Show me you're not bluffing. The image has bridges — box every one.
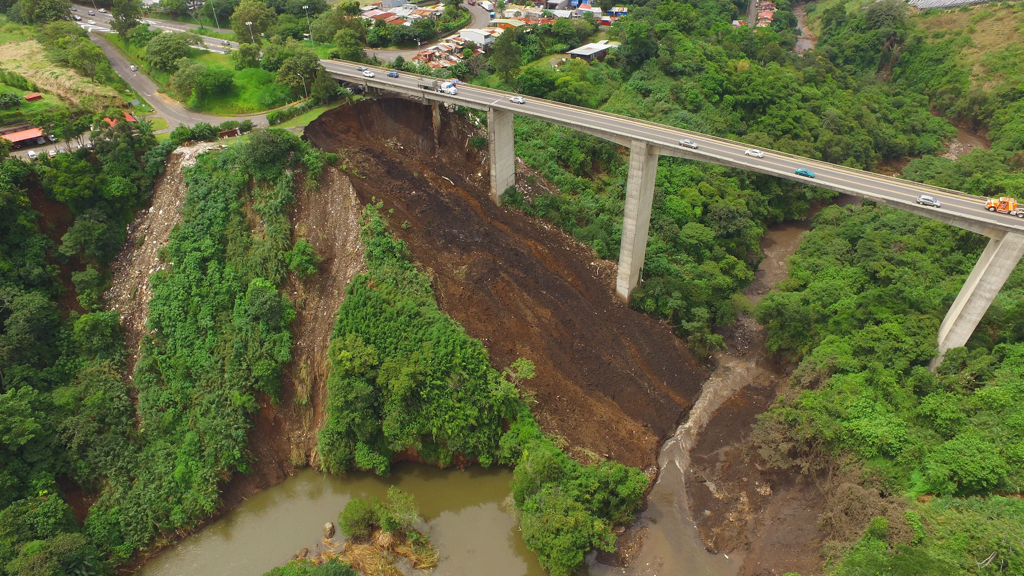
[321,61,1024,367]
